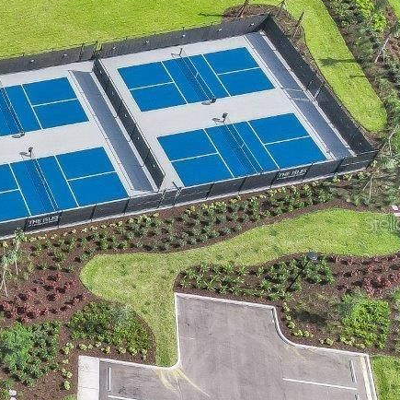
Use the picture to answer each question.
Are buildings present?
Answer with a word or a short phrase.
No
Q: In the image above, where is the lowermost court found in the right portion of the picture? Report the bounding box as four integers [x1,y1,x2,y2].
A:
[156,113,328,185]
